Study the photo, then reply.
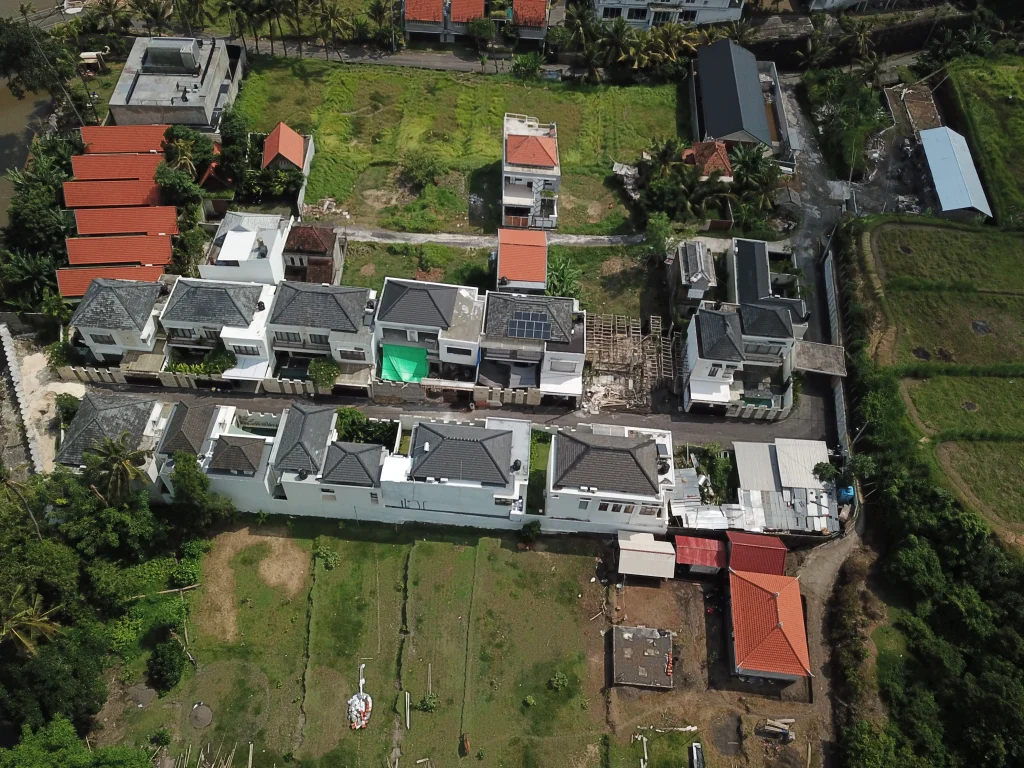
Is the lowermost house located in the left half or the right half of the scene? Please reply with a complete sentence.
It is on the right.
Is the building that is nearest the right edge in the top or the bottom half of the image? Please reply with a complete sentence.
The building that is nearest the right edge is in the top half of the image.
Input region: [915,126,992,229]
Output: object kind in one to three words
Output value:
building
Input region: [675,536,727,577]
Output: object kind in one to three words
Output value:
shed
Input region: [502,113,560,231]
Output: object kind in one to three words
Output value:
house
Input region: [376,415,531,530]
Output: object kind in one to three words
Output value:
house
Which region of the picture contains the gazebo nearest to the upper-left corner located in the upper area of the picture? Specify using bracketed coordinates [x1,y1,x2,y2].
[76,48,105,69]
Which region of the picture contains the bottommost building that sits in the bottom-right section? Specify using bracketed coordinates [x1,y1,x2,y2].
[727,565,817,694]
